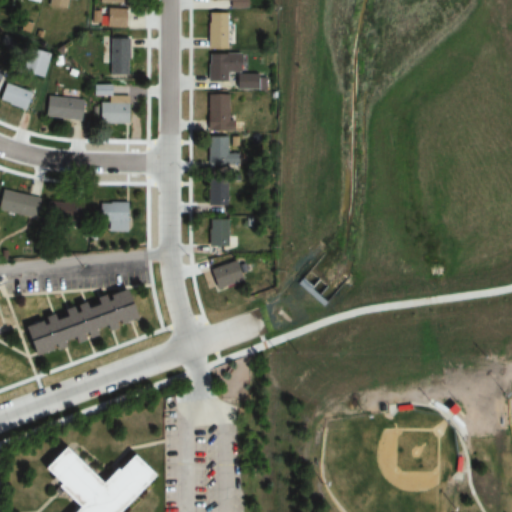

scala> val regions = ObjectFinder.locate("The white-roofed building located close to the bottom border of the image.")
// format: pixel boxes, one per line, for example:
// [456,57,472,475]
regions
[48,446,158,512]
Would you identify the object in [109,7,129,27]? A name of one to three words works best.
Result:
house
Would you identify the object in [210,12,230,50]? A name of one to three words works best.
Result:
house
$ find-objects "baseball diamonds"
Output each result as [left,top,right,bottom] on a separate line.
[320,411,457,512]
